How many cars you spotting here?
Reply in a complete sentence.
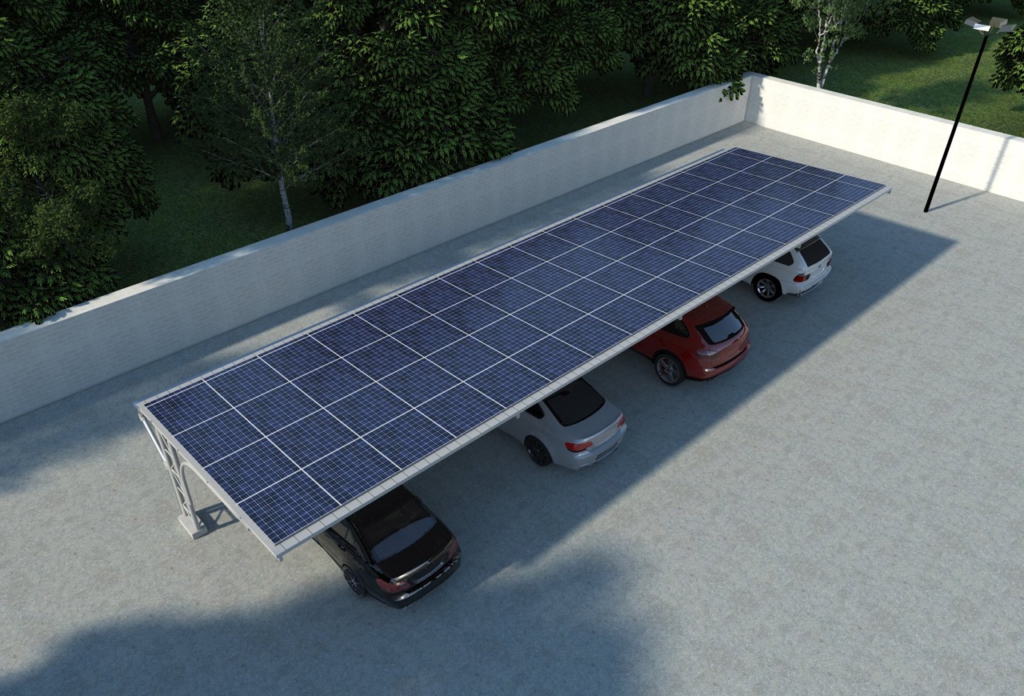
In total, 4 cars can be seen.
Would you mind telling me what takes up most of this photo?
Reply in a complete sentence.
What you mostly see from above here is paved ground.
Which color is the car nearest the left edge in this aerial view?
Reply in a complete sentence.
From above, the car nearest the left edge appears black.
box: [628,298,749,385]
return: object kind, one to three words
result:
car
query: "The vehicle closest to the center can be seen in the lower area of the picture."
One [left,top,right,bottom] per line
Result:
[501,377,625,472]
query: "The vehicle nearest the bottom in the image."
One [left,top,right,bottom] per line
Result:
[315,484,458,604]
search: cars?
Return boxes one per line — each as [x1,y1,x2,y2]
[501,377,625,472]
[315,484,458,604]
[747,234,835,301]
[628,298,749,385]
